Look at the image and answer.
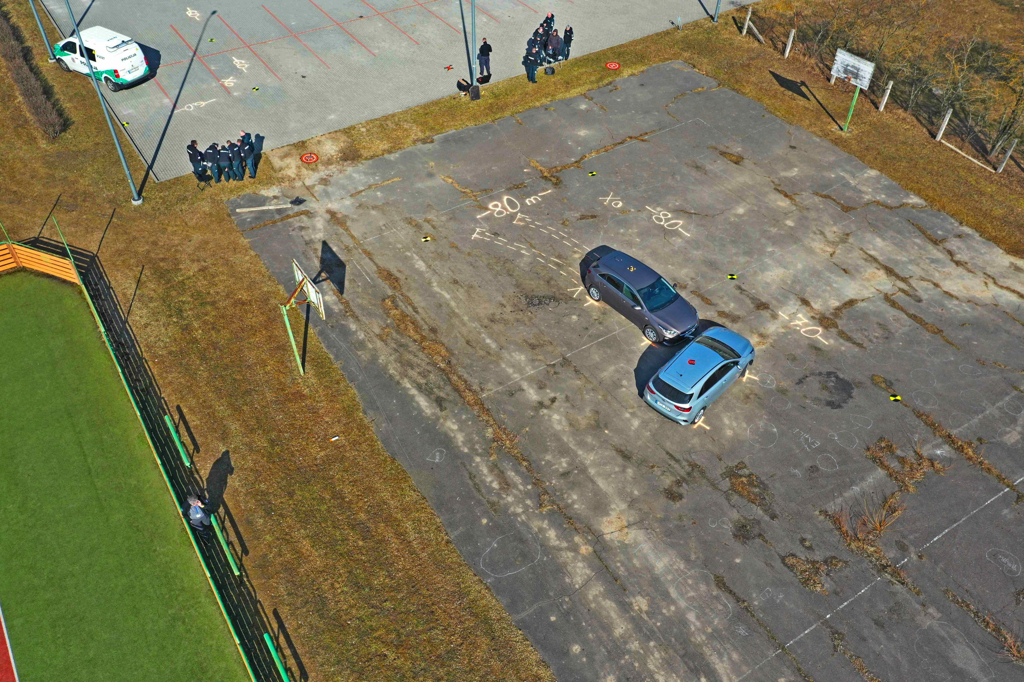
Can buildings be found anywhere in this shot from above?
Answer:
No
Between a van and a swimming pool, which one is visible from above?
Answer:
van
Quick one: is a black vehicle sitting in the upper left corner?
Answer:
No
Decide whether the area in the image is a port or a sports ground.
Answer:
sports ground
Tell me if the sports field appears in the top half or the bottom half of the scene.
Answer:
bottom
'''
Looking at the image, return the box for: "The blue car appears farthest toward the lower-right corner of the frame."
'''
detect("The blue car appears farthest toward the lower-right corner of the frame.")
[642,328,754,426]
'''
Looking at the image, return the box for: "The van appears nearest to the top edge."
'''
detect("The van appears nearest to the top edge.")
[58,28,153,91]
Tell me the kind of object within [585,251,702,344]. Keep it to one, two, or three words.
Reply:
car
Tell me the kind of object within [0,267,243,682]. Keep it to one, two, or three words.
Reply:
sports field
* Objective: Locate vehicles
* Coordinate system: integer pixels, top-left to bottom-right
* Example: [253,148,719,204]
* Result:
[58,28,153,91]
[585,251,702,344]
[642,328,754,426]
